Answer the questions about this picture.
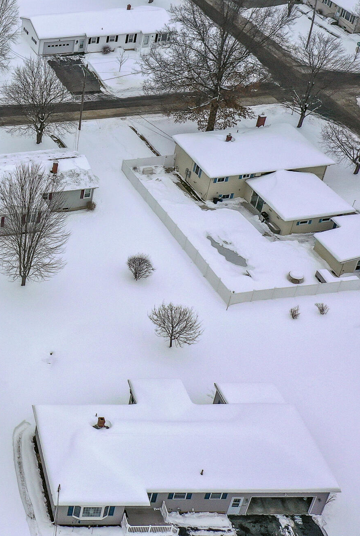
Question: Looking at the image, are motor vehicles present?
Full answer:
No, I find no motor vehicle anywhere in the image.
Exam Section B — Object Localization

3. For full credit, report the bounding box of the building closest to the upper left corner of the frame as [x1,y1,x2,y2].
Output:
[19,4,179,56]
